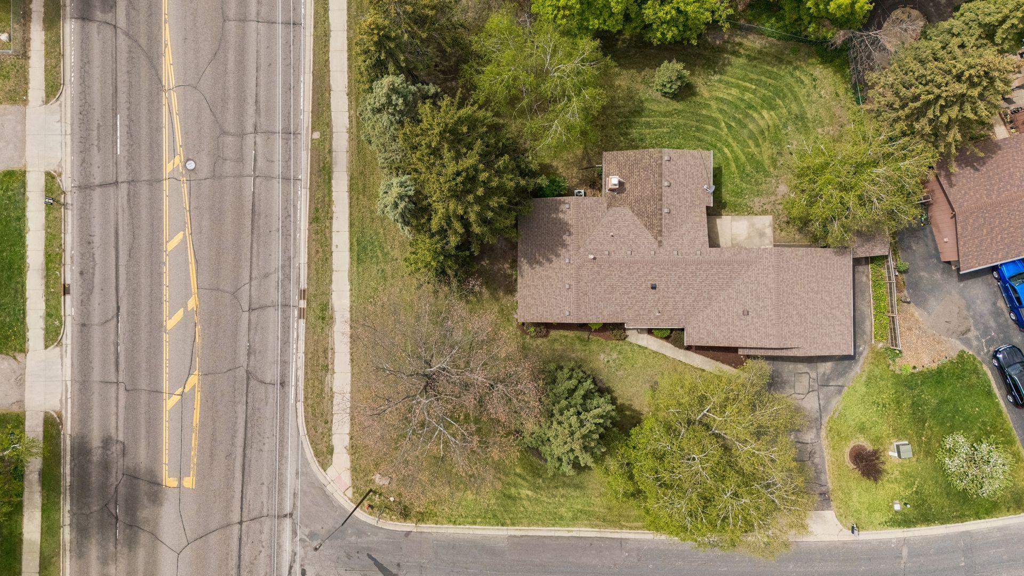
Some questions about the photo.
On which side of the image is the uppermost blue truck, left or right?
right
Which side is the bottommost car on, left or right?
right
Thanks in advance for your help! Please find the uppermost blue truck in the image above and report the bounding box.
[990,260,1024,333]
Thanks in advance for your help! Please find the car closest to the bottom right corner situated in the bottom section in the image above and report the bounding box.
[992,344,1024,409]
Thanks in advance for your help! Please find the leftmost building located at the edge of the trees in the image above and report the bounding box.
[518,147,852,356]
